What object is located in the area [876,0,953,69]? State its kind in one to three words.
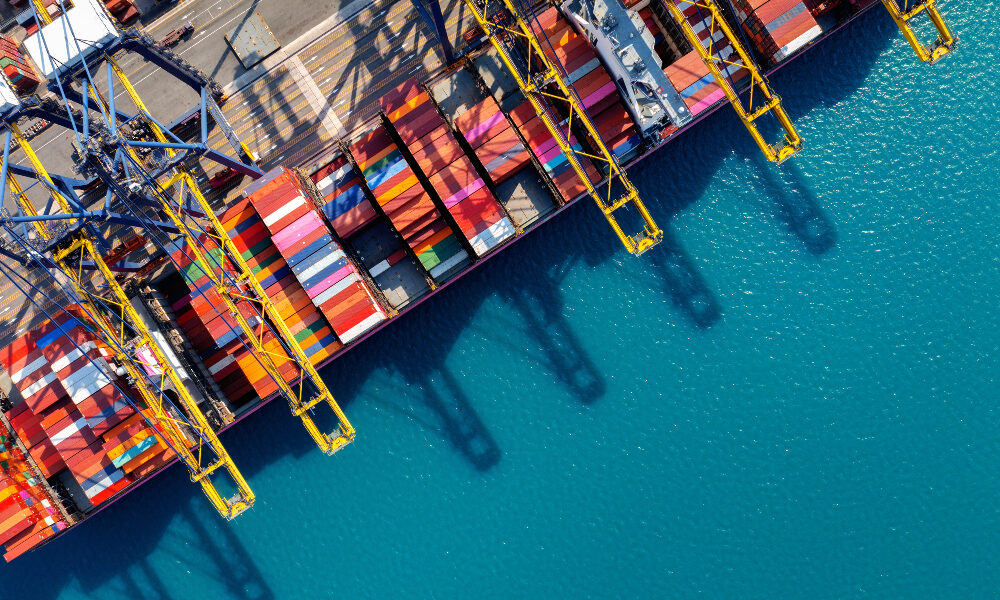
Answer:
container crane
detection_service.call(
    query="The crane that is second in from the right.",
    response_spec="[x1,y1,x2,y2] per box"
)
[670,0,808,163]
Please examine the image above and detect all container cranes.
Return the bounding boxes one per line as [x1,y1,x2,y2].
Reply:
[670,0,808,163]
[876,0,953,69]
[2,0,354,457]
[398,0,664,256]
[0,77,255,523]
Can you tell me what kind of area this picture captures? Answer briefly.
port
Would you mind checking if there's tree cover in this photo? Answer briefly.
No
